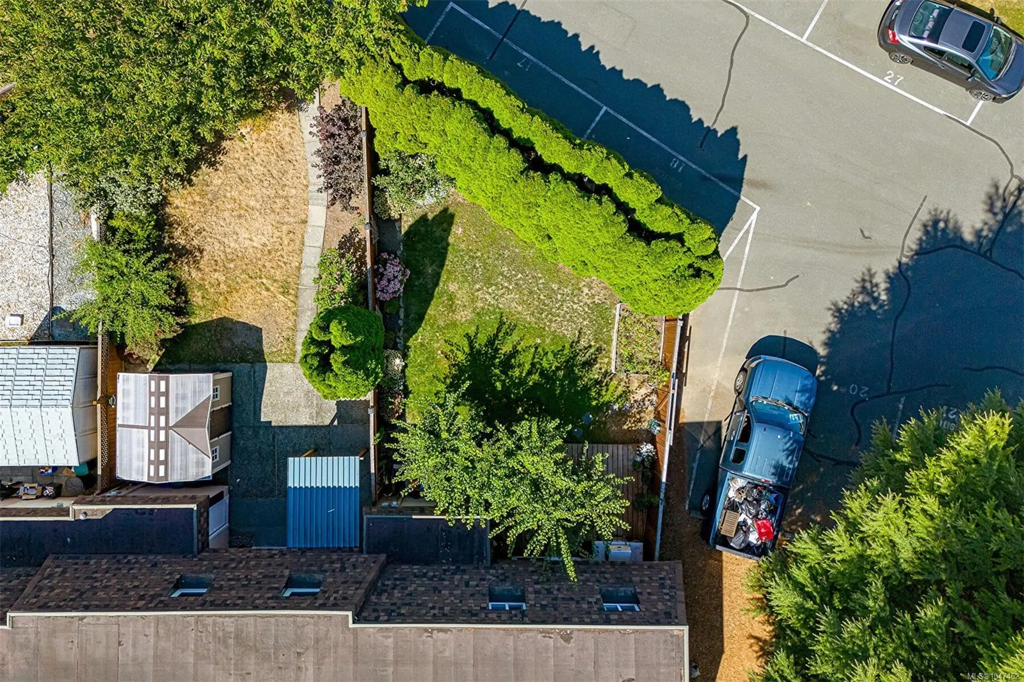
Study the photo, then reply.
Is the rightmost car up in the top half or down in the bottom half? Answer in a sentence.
The rightmost car sits in the top half of the picture.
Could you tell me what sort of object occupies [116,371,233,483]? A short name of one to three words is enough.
shed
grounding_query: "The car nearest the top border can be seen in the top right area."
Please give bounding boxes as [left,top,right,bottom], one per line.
[875,0,1024,103]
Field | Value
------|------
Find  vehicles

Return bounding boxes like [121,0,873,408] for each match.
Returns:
[875,0,1024,103]
[705,354,818,561]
